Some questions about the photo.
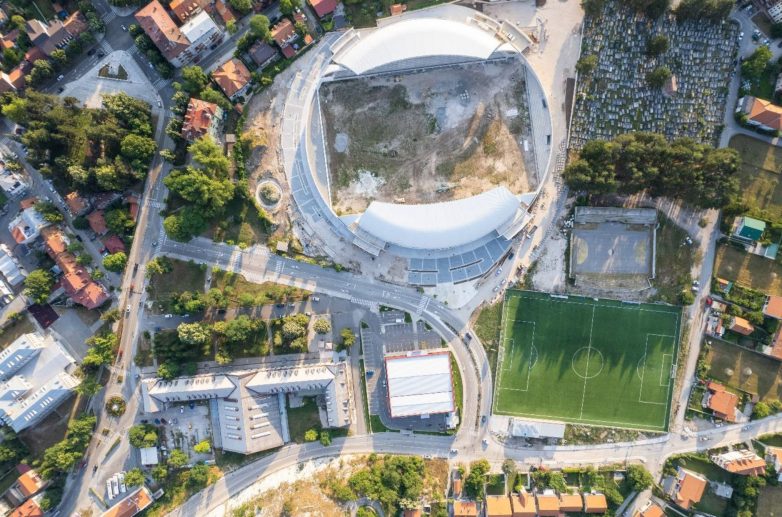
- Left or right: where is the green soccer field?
right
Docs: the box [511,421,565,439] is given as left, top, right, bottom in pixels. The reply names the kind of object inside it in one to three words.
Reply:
building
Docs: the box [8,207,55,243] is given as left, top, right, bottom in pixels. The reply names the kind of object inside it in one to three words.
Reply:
house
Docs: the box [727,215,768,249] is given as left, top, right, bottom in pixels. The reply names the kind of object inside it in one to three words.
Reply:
house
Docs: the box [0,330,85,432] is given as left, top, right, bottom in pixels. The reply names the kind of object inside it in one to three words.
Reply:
building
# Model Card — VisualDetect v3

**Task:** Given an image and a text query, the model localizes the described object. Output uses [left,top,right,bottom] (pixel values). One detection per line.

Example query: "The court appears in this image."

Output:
[571,207,659,280]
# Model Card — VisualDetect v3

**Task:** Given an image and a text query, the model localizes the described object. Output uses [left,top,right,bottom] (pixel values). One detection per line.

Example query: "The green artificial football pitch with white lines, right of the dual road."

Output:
[491,289,681,434]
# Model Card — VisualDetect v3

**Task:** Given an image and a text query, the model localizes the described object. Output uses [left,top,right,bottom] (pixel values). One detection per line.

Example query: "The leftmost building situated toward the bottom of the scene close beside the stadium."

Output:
[140,365,355,454]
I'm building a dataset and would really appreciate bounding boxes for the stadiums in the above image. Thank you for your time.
[281,0,553,284]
